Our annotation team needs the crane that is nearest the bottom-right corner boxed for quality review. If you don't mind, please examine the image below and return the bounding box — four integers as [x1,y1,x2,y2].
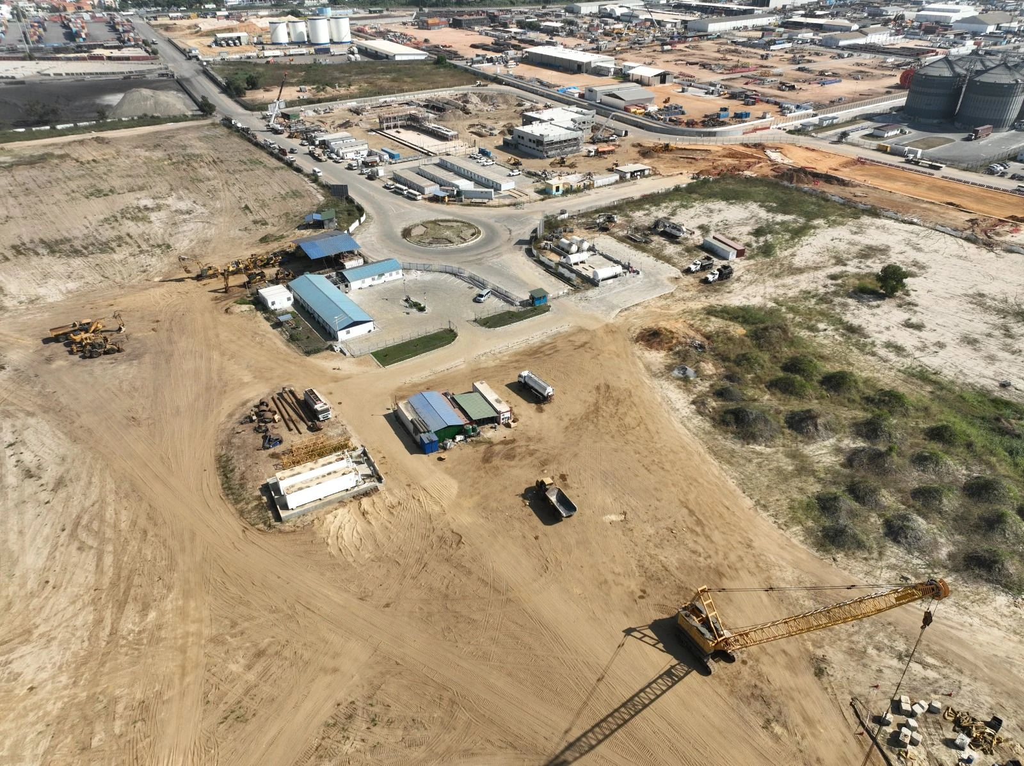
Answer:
[669,576,957,766]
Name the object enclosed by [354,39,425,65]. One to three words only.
building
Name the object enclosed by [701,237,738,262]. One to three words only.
shipping container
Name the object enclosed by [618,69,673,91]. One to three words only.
shed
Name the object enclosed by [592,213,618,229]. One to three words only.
vehicle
